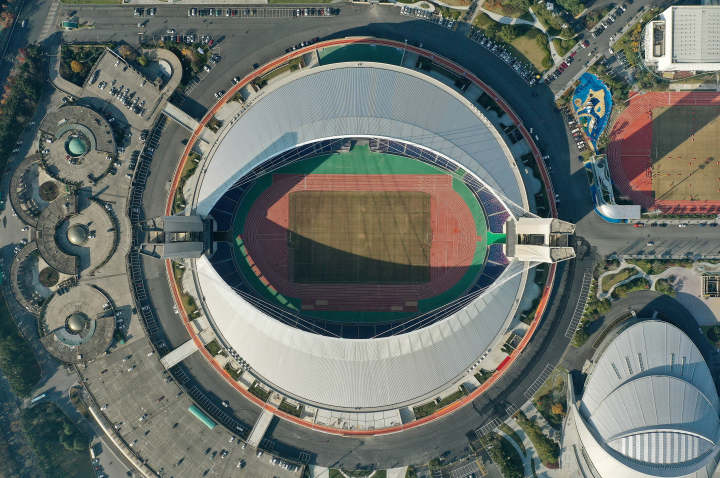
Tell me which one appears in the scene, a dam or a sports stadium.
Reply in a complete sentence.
Visible in the photo is a sports stadium.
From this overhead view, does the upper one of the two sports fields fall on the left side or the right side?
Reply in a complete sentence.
It is on the right.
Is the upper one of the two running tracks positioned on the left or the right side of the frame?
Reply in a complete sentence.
It is on the right.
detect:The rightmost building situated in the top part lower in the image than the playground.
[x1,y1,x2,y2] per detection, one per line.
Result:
[586,155,641,222]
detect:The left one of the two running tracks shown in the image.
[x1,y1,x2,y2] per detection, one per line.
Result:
[243,174,480,311]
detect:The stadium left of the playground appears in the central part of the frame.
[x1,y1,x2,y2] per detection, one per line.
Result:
[139,40,576,433]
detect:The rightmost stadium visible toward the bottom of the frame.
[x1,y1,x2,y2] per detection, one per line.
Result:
[563,318,720,478]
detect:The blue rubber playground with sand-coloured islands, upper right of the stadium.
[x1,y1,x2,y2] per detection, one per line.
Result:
[572,72,612,153]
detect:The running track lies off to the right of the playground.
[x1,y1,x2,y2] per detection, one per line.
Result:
[608,91,720,214]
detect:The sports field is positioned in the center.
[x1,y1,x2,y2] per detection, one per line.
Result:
[288,192,432,285]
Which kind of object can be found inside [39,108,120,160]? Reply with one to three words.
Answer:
building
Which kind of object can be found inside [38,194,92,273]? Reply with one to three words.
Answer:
building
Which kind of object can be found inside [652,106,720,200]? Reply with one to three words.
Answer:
sports field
